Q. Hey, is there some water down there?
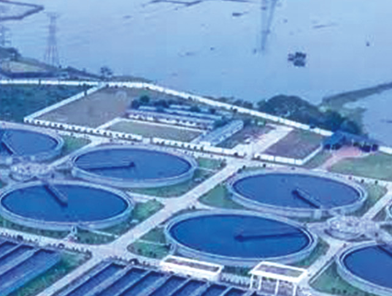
Yes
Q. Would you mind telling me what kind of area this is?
industrial area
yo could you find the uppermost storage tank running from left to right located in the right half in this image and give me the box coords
[229,167,370,224]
